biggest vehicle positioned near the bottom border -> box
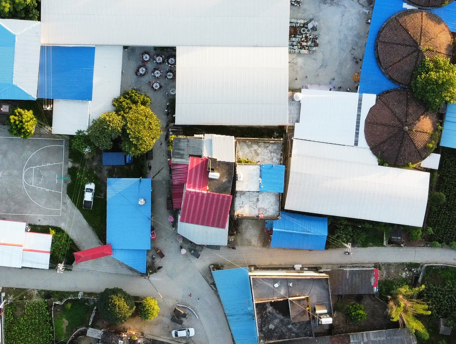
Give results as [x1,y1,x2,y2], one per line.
[172,327,195,340]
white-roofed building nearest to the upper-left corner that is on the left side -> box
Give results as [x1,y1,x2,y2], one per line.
[0,19,40,100]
